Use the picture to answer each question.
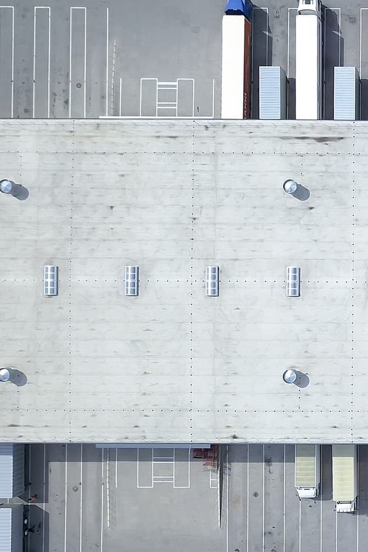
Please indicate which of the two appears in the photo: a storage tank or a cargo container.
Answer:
cargo container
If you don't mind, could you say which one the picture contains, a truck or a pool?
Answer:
truck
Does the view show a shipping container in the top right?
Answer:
Yes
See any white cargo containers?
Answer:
Yes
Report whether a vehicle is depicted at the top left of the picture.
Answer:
No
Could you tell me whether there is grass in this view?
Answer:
No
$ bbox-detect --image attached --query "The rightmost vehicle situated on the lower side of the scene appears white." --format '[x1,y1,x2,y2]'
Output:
[334,446,358,515]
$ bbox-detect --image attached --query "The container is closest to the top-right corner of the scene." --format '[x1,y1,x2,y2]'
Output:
[335,67,361,121]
